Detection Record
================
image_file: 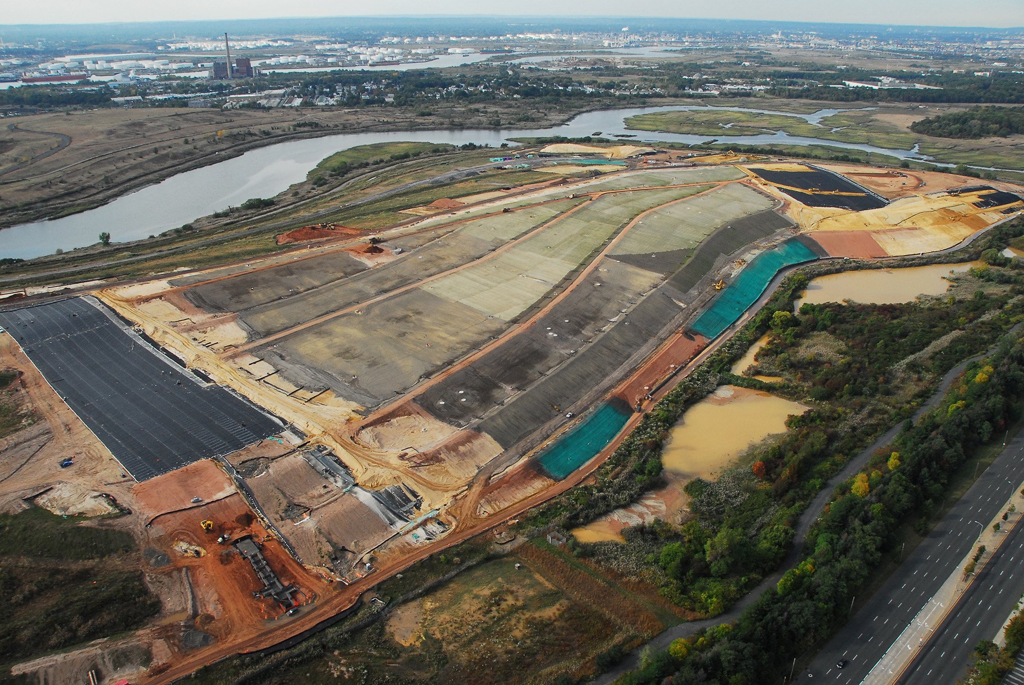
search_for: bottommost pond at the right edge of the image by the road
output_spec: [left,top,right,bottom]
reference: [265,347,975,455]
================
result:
[795,261,988,305]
